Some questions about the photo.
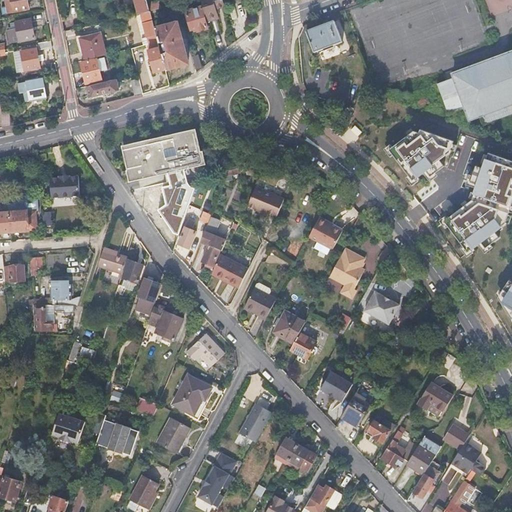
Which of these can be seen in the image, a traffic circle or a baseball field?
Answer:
traffic circle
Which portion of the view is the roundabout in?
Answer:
top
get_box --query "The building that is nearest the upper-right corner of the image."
[438,50,512,124]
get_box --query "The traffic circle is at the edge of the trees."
[213,72,286,144]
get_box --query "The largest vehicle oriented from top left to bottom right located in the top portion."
[88,156,106,176]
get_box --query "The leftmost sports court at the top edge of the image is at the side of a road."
[350,0,484,82]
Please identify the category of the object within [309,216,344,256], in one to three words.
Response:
house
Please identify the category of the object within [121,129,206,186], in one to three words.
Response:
building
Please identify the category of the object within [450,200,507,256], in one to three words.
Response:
building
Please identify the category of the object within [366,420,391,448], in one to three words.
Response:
house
